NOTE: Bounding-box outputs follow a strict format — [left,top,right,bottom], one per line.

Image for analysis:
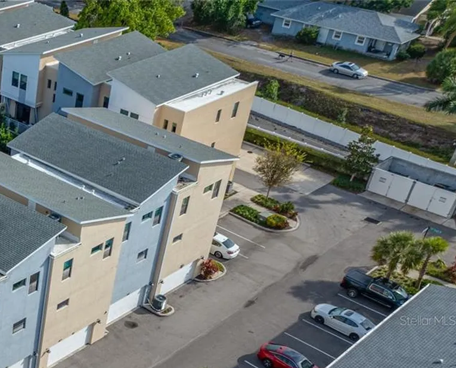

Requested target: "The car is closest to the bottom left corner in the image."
[210,232,240,260]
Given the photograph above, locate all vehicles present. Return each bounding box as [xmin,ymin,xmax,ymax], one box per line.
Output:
[343,271,418,314]
[310,303,379,342]
[329,63,368,78]
[210,232,240,260]
[256,343,317,368]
